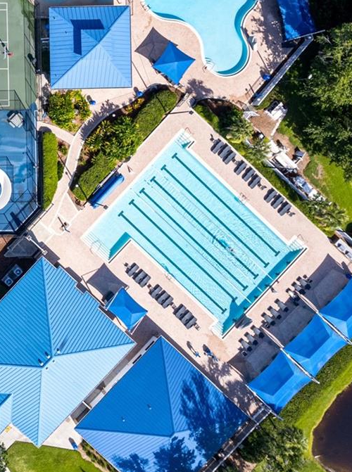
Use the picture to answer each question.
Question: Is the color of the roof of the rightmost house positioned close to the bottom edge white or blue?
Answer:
blue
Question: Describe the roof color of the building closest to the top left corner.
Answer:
blue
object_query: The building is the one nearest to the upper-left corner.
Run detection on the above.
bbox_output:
[48,6,132,89]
